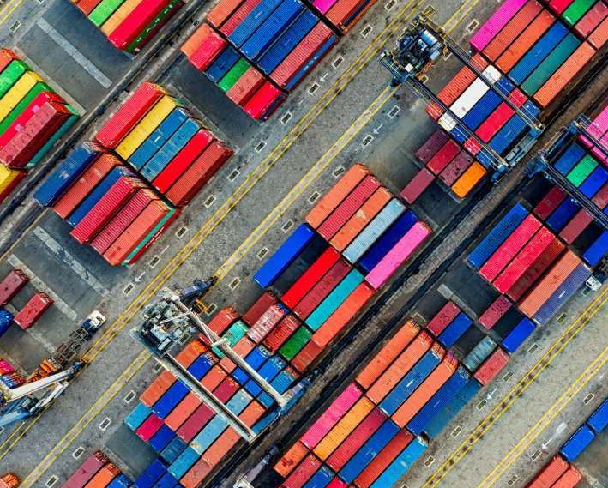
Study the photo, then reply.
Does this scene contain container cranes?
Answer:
Yes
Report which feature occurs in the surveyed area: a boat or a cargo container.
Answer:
cargo container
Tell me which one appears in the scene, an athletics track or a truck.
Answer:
truck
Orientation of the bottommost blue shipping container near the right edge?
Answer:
diagonally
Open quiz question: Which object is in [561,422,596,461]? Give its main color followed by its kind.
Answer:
blue shipping container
